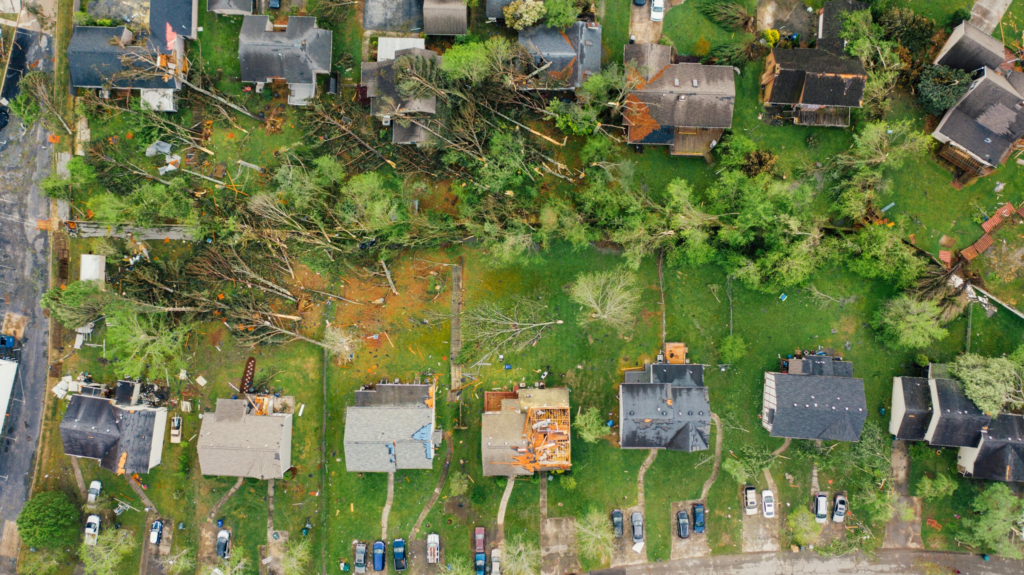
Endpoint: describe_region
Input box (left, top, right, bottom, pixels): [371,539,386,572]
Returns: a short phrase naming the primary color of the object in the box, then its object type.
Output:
blue car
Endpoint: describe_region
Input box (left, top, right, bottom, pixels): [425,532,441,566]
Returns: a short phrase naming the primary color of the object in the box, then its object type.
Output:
white car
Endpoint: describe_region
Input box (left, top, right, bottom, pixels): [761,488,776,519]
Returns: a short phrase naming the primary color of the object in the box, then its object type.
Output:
white car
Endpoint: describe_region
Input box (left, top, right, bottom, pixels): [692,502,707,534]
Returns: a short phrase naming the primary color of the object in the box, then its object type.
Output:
blue car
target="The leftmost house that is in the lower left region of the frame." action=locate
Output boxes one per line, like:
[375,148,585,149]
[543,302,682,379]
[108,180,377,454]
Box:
[55,380,165,474]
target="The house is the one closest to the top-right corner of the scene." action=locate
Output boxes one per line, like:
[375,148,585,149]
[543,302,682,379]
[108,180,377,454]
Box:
[932,20,1024,190]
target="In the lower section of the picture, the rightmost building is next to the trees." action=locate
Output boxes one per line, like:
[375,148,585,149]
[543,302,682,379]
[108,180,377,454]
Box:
[886,362,1024,486]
